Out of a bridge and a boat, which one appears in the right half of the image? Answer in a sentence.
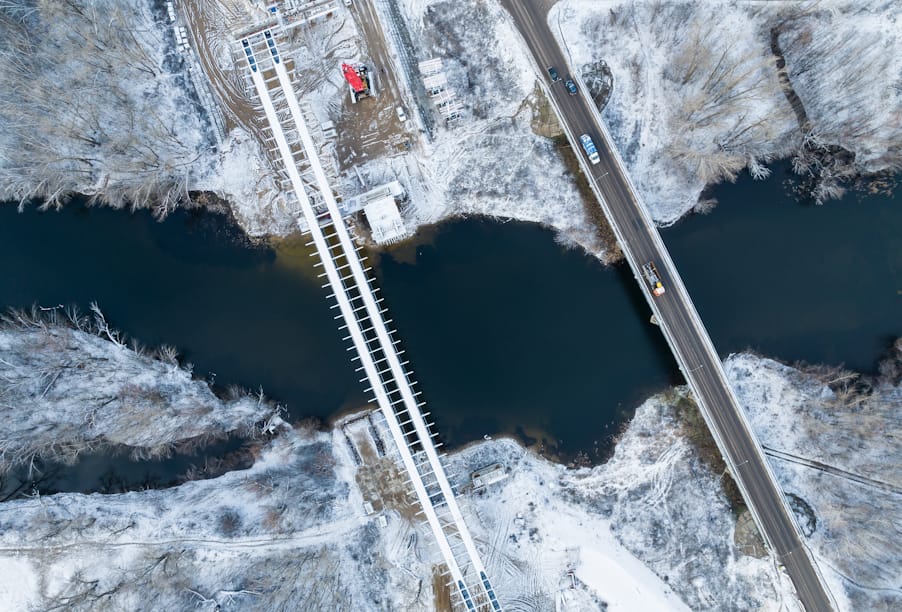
Visible in the right half of the image is a bridge.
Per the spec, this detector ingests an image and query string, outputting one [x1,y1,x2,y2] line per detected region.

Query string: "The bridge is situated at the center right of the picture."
[544,73,810,558]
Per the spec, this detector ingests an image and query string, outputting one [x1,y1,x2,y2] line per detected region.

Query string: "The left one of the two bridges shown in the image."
[226,24,507,612]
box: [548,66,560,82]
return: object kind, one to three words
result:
vehicle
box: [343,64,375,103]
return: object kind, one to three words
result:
work vehicle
